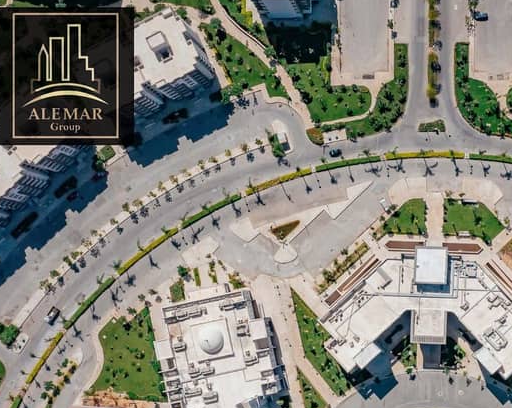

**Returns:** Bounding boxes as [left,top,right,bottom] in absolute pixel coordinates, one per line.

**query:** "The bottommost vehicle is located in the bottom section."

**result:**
[47,307,61,322]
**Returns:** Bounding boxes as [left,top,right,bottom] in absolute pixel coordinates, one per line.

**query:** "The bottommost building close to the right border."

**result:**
[321,247,512,379]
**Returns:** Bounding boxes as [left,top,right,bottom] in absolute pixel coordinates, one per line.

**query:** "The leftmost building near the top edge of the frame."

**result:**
[70,16,212,135]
